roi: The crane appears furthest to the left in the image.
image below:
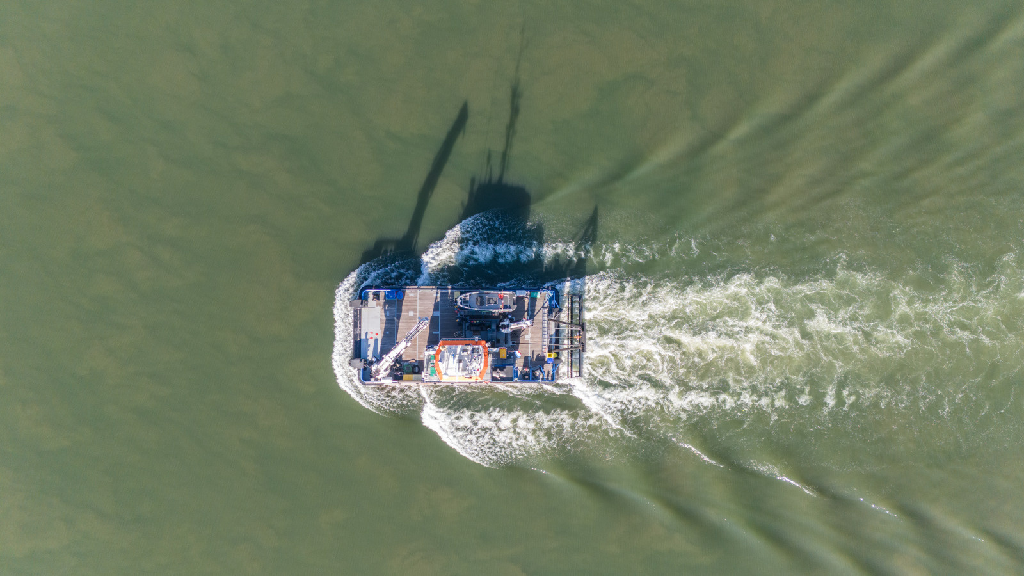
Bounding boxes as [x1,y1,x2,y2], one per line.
[367,317,432,380]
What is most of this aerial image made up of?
water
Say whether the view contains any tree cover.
No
